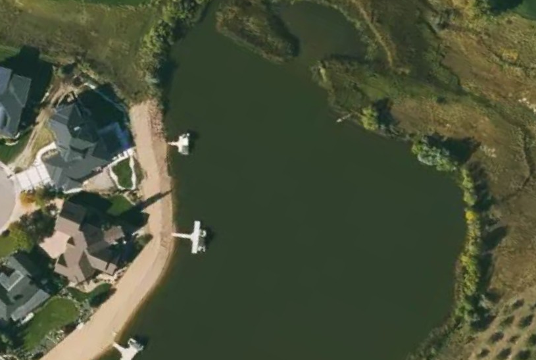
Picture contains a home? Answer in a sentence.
Yes, there is a home in the image.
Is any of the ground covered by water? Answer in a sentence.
Yes, water shows up in the scene.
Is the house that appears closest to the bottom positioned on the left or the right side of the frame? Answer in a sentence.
The house that appears closest to the bottom is on the left side of the image.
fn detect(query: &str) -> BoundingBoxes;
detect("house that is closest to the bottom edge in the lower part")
[0,260,51,323]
